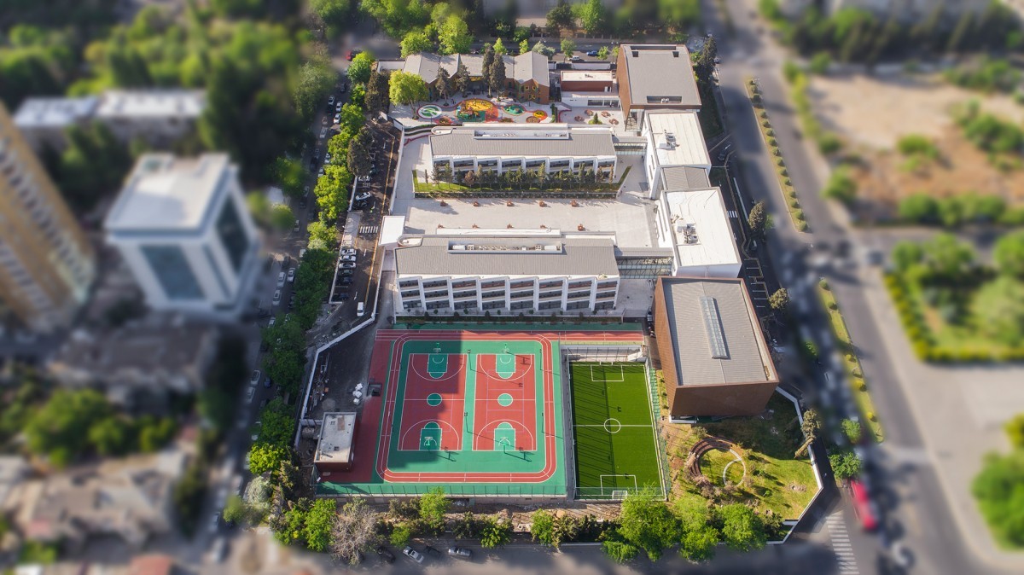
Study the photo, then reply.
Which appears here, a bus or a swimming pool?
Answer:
bus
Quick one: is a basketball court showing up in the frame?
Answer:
Yes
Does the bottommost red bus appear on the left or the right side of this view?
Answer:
right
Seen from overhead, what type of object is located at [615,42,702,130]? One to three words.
building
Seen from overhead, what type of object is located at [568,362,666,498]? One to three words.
soccer field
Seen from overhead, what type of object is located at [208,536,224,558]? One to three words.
car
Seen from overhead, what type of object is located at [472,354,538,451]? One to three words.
basketball court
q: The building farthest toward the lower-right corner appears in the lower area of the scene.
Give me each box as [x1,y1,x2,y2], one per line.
[651,278,780,423]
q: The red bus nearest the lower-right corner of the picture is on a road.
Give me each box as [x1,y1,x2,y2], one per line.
[847,474,880,529]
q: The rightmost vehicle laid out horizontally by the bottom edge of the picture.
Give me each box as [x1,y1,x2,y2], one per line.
[447,544,471,556]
